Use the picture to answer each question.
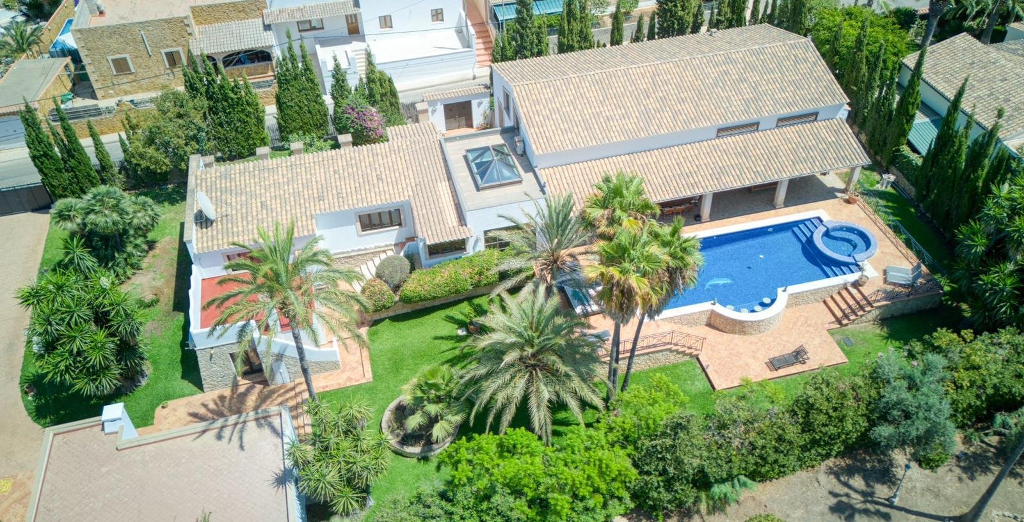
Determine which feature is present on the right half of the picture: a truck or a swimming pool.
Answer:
swimming pool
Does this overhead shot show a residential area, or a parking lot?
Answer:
residential area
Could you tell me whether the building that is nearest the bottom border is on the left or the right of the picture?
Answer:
left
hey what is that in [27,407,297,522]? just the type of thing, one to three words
building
